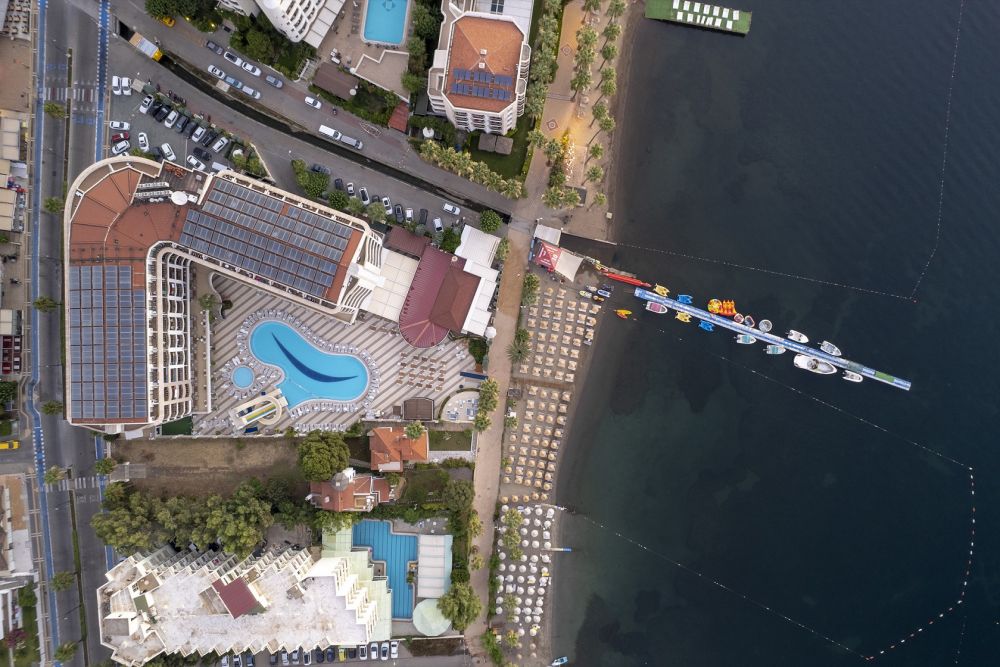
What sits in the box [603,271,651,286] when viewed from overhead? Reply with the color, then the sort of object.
red boat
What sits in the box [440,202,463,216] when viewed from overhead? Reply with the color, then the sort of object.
white vehicle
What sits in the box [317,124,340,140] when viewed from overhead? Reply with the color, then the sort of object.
white car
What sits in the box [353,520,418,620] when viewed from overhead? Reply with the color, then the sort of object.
blue swimming pool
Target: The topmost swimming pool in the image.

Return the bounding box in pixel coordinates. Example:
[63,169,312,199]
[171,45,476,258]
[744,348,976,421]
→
[361,0,410,45]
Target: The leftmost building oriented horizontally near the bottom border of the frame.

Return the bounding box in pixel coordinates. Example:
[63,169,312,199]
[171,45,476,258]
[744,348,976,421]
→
[98,529,387,667]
